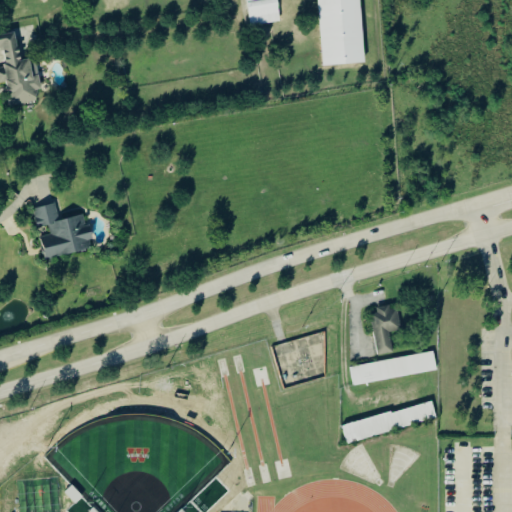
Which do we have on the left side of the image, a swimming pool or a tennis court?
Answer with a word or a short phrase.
swimming pool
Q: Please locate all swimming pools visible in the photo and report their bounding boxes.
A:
[41,60,66,91]
[88,211,110,246]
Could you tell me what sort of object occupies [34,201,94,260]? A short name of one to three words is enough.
house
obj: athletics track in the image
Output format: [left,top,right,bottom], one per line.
[258,478,400,512]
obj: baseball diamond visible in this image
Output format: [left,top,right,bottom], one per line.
[46,414,230,512]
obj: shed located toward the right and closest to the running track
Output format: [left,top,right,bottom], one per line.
[342,402,436,443]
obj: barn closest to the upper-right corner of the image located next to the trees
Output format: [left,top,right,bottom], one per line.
[316,0,365,64]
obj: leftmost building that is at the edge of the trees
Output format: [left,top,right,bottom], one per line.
[0,29,42,106]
